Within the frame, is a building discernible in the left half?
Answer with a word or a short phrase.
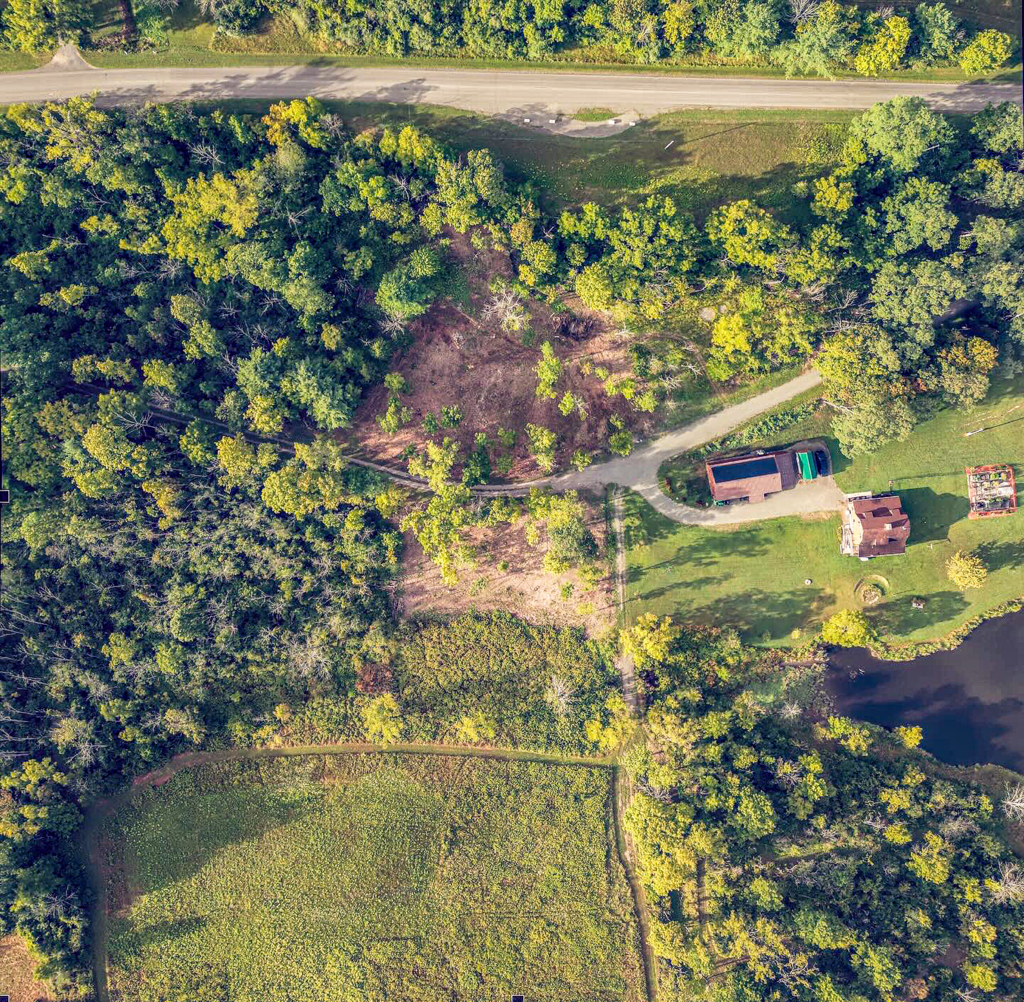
No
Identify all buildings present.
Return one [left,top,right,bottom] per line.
[840,493,910,563]
[707,450,780,505]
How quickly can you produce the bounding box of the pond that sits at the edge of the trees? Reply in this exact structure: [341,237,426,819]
[828,594,1024,772]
